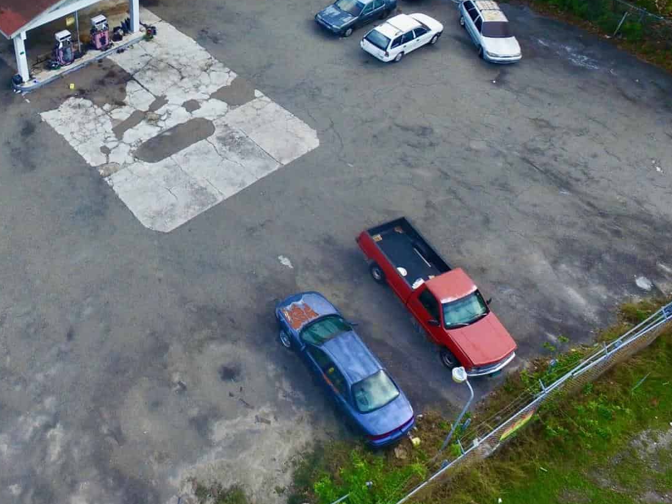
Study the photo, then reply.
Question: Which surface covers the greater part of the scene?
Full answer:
What you mostly see from above here is paved ground.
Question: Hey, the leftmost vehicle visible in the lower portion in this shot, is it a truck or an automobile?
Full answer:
From above, the leftmost vehicle visible in the lower portion can be identified as an automobile.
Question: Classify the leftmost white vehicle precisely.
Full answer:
I'd identify the leftmost white vehicle as an automobile.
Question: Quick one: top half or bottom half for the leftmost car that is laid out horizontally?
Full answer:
The leftmost car that is laid out horizontally sits in the top half of the picture.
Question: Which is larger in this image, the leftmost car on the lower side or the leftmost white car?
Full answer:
The leftmost car on the lower side takes up more space than the leftmost white car.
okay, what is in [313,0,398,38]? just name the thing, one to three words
car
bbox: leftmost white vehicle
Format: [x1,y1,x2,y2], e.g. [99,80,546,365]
[357,13,441,63]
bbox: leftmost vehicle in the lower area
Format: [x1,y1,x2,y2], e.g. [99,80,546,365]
[279,295,424,459]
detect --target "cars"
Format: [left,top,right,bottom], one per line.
[313,0,398,38]
[279,295,424,459]
[357,13,441,63]
[458,0,524,66]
